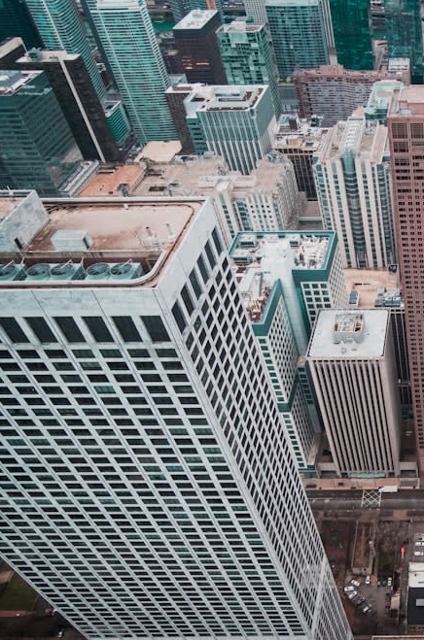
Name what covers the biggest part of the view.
buildings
